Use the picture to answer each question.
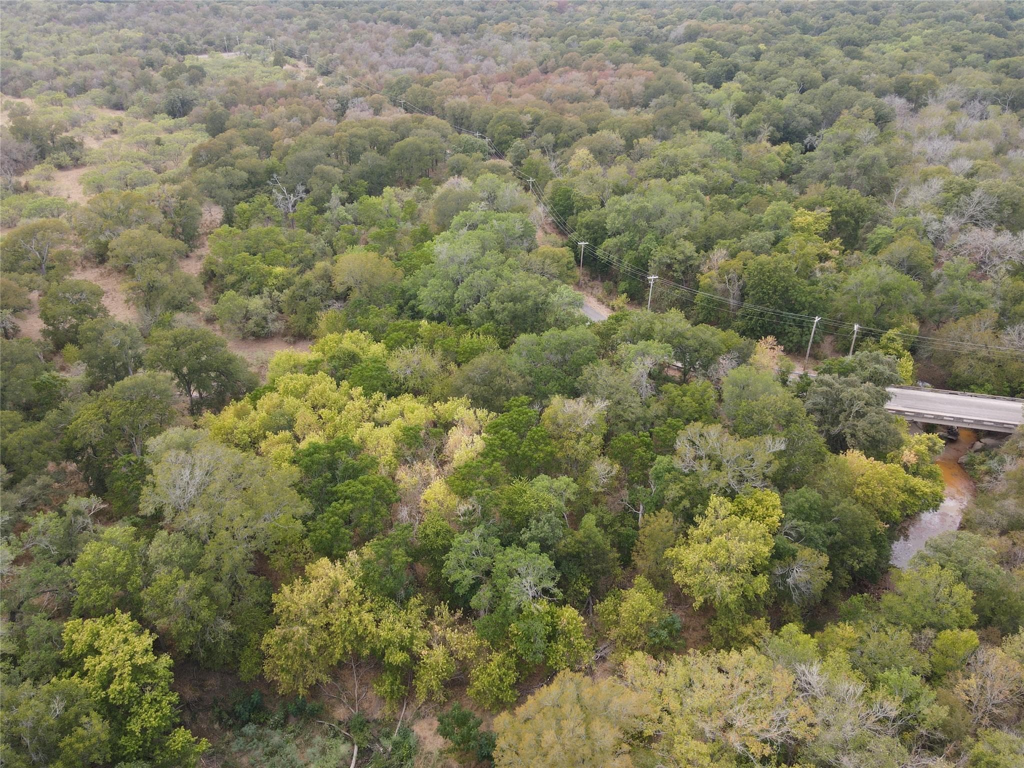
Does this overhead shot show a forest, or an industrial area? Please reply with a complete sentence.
What you see here is a forest.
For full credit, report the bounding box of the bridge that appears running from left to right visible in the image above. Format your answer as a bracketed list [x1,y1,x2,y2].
[887,381,1024,453]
